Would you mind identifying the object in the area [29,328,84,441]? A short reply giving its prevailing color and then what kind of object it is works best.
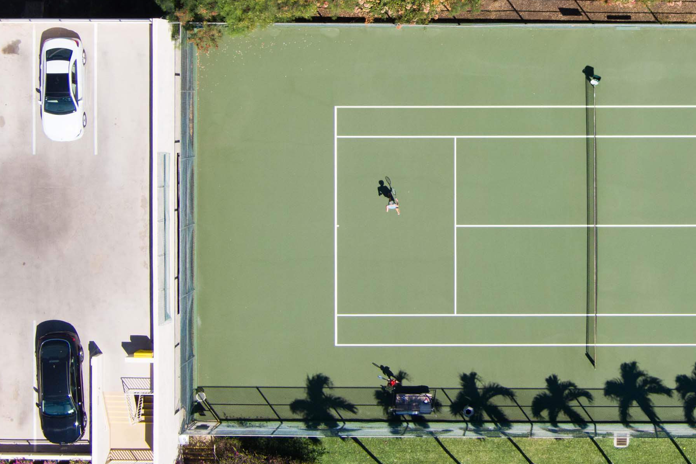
black car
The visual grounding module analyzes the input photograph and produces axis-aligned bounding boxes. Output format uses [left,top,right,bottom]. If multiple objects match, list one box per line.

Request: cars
[29,328,84,441]
[30,33,85,141]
